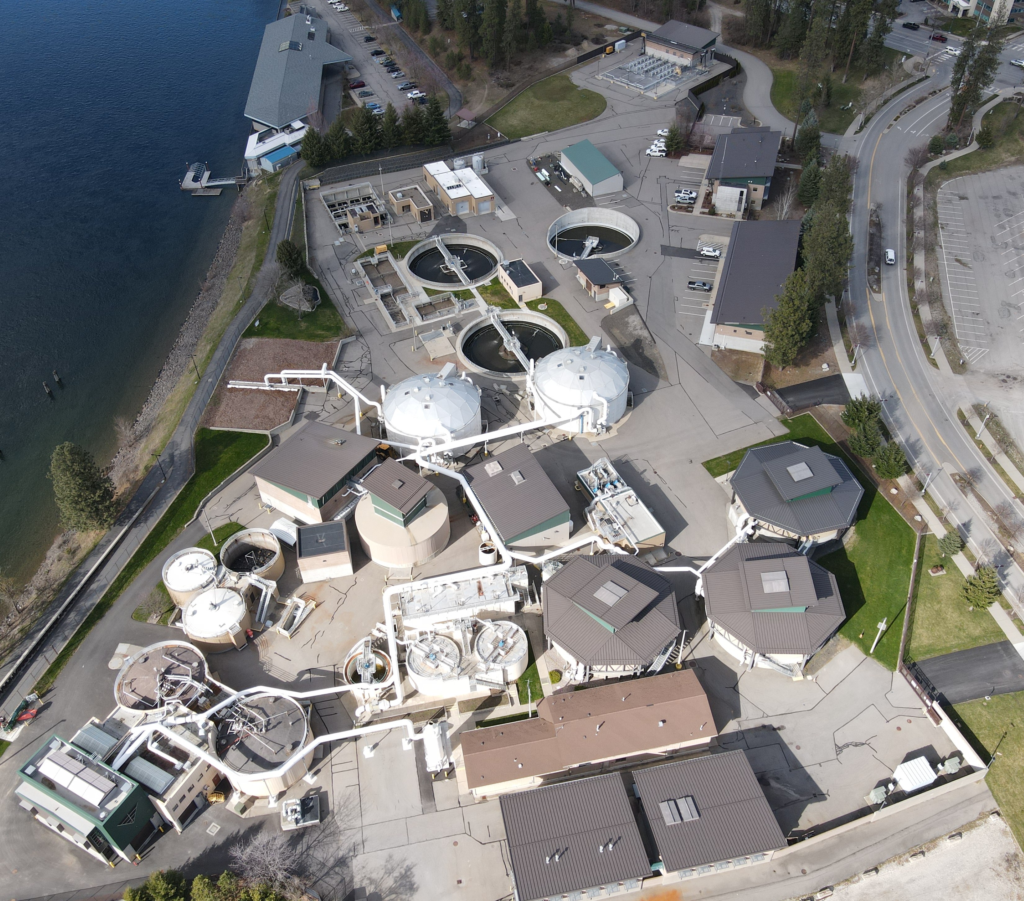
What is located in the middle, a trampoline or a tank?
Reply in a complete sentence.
You can see a tank in the middle.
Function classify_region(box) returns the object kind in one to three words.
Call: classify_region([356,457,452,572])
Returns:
storage tank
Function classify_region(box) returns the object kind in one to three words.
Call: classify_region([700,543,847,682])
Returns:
house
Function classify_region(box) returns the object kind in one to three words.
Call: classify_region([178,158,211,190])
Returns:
pier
